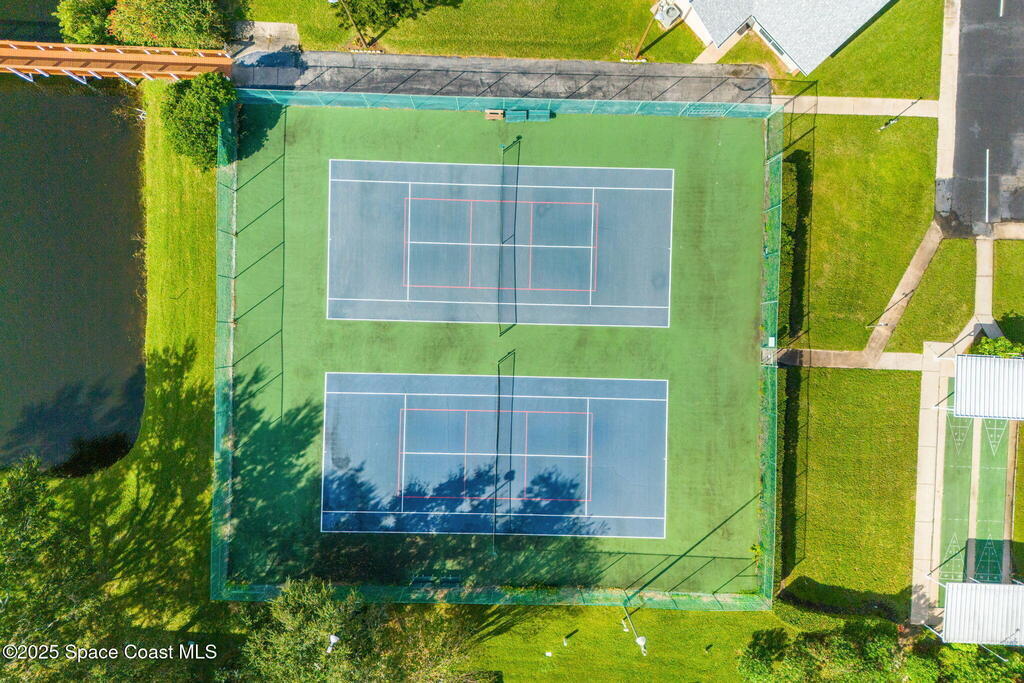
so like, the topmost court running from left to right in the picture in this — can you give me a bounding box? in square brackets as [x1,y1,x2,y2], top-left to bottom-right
[327,160,673,327]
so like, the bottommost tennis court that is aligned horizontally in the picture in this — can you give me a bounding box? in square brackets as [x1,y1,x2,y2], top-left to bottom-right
[322,373,667,537]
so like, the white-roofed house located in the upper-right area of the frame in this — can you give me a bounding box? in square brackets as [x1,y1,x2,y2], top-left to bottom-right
[680,0,885,84]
